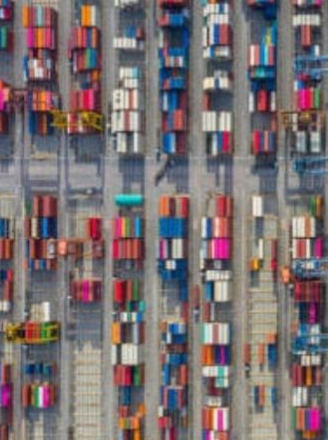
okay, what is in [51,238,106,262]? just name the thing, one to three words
crane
